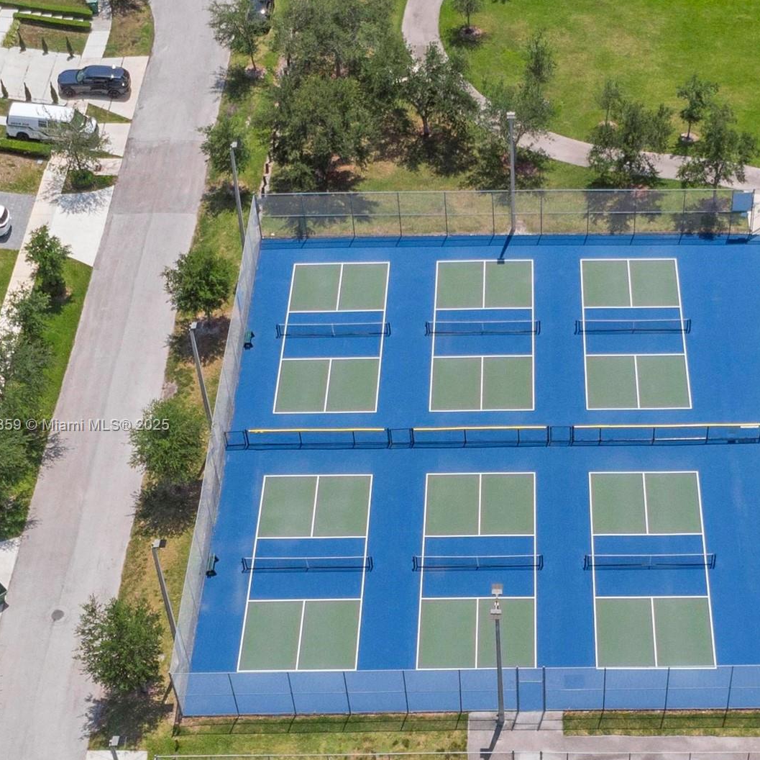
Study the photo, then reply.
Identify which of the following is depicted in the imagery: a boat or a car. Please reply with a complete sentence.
Looking from above, you can make out a car.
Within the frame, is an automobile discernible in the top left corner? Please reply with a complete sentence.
Yes, an automobile is visible in the top left corner.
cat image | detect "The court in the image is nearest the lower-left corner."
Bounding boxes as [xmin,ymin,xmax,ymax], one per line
[236,477,372,673]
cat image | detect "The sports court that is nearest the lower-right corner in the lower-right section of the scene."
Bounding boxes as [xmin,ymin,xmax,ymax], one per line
[590,474,716,671]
